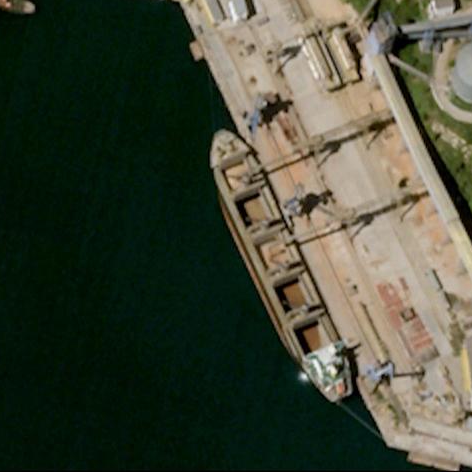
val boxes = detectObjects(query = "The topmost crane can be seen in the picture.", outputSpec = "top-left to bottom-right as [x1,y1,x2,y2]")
[241,91,268,150]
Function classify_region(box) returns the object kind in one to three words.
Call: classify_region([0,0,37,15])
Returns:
boat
